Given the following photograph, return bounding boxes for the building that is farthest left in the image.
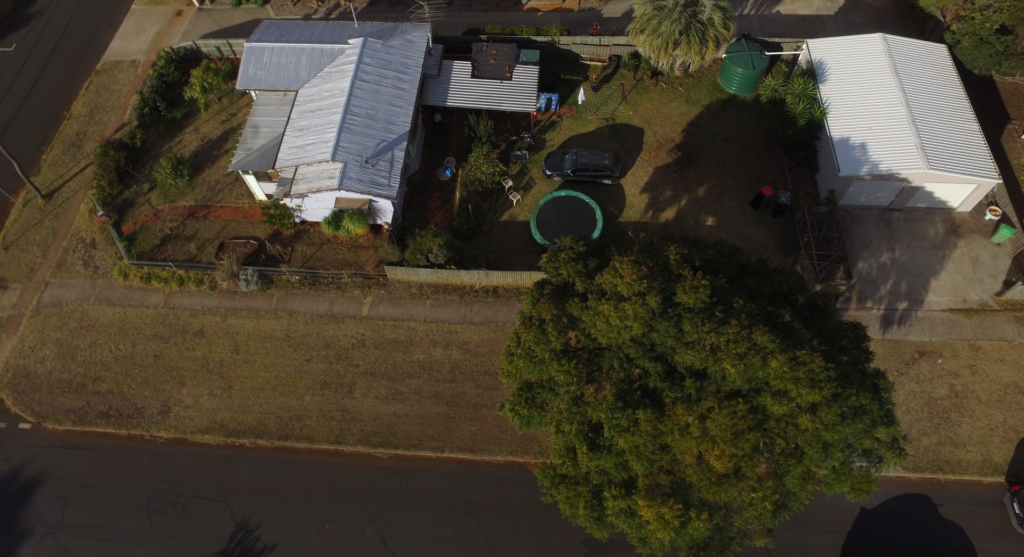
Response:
[227,13,432,227]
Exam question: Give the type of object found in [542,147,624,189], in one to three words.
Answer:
car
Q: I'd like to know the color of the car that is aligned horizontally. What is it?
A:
black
